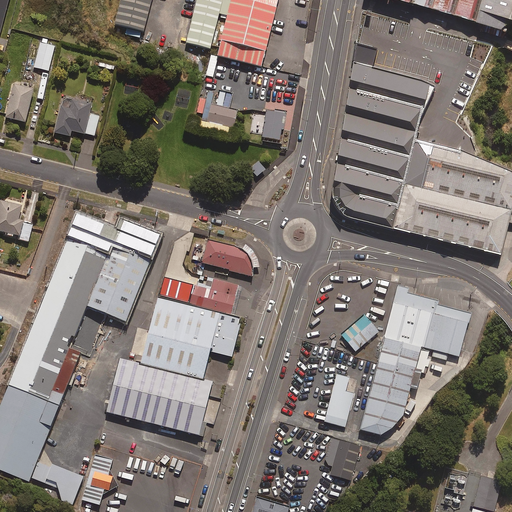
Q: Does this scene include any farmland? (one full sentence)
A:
No, no farmland is visible.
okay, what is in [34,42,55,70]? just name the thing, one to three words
shed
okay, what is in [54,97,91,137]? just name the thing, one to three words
house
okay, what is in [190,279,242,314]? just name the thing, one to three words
building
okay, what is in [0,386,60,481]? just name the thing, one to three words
building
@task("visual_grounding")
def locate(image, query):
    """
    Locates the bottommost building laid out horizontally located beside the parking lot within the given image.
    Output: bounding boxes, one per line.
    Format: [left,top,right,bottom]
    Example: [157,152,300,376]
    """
[394,184,510,255]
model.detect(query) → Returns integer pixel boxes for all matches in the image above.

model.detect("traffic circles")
[283,218,316,252]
